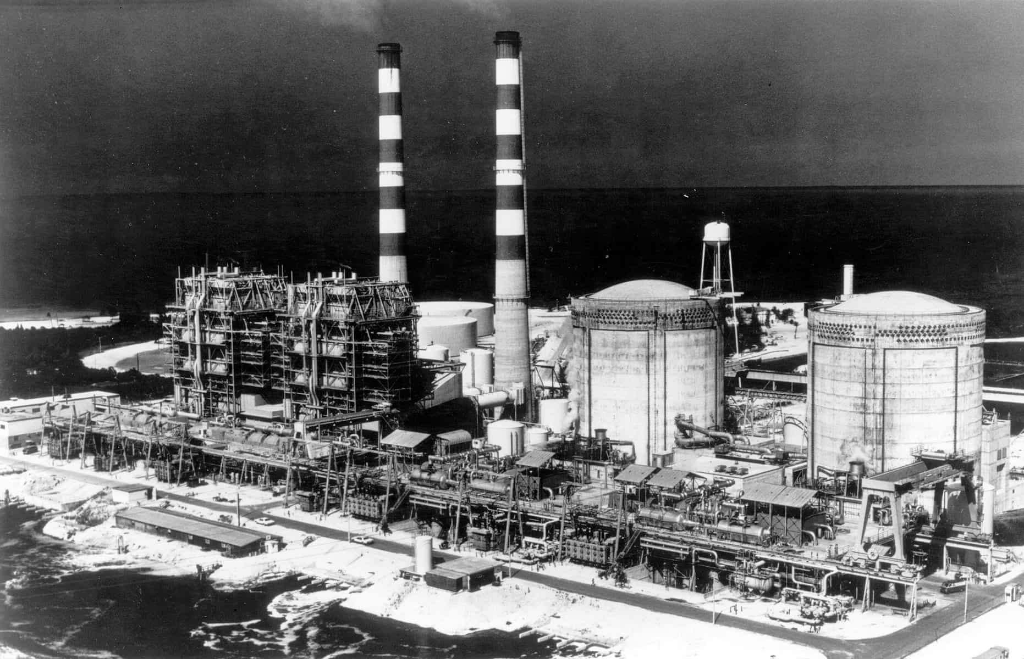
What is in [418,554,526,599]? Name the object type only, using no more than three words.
building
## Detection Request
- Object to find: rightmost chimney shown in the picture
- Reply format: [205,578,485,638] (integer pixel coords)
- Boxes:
[489,30,536,426]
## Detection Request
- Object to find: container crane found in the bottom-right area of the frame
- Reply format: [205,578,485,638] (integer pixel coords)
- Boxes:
[831,447,998,570]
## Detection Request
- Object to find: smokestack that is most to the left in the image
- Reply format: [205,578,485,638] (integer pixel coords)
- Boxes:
[372,42,411,322]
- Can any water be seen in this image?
Yes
